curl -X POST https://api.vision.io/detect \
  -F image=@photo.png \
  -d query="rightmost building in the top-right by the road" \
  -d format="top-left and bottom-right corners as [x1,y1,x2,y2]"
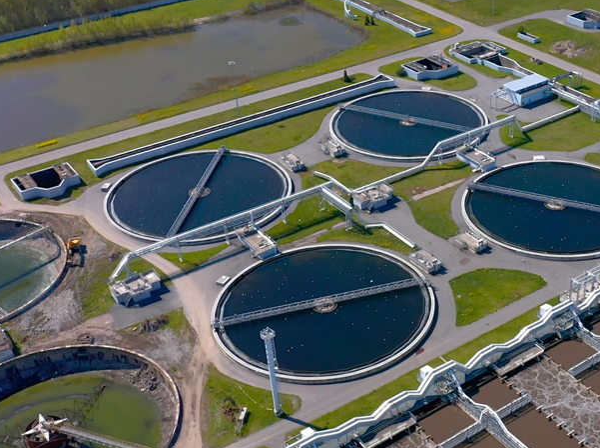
[498,68,553,106]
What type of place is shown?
industrial area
